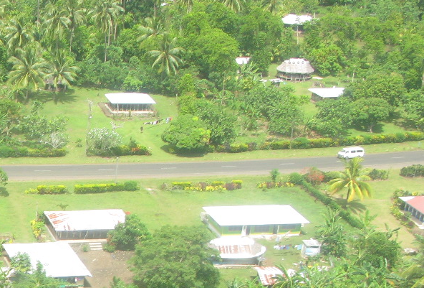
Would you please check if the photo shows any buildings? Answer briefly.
Yes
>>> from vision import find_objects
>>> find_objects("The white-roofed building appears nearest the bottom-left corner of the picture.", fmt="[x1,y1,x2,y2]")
[15,243,92,288]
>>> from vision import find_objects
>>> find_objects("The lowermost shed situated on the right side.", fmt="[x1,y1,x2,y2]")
[245,263,288,288]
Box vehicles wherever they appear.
[339,147,366,159]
